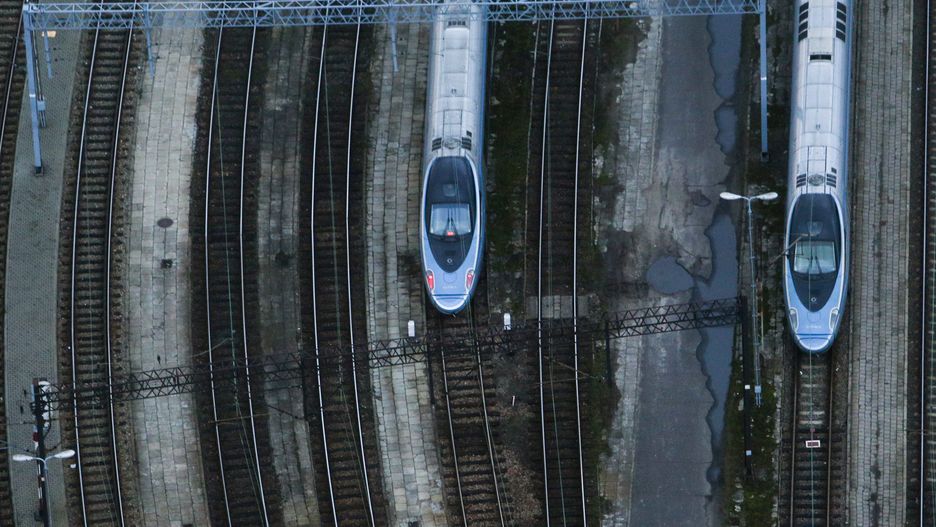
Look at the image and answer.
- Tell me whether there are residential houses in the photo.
No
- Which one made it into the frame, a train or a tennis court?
train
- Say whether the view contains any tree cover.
No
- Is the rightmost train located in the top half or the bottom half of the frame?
top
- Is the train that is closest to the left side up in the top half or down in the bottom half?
top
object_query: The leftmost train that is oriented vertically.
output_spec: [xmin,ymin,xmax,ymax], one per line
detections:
[422,0,493,324]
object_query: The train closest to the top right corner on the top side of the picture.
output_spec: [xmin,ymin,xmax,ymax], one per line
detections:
[783,0,856,363]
